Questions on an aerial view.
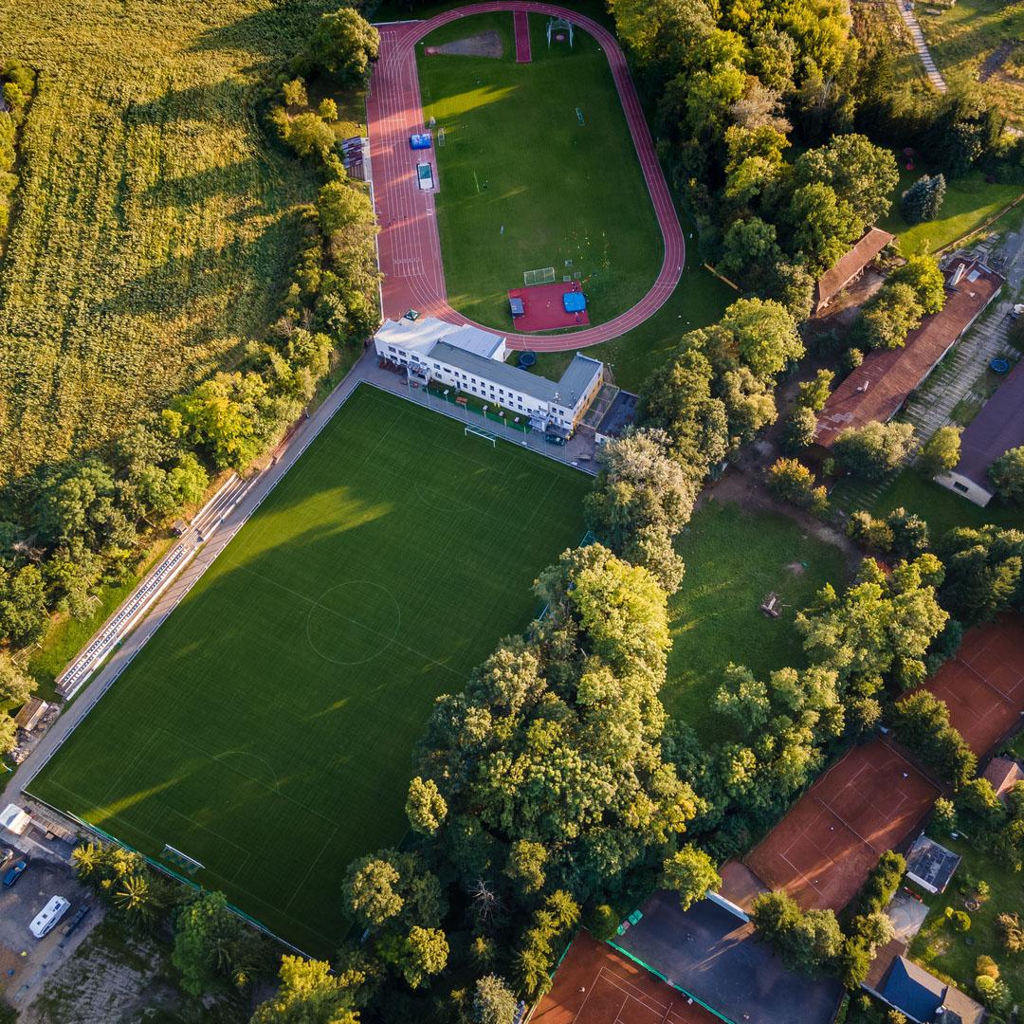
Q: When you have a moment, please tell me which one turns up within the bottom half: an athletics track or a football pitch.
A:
football pitch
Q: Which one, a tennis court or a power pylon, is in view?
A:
tennis court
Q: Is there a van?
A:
Yes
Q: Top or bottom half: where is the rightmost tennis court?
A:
bottom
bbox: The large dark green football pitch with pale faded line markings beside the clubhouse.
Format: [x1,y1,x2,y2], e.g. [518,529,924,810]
[27,383,606,964]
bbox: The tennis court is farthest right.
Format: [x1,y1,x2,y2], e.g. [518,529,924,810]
[894,609,1024,761]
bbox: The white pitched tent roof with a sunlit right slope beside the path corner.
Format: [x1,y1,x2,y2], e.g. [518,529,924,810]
[0,804,37,838]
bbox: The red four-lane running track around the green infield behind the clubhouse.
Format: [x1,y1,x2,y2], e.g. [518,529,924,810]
[364,4,690,350]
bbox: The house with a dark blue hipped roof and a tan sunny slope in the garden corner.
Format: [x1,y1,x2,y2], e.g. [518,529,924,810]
[879,957,992,1024]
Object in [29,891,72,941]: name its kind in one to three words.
van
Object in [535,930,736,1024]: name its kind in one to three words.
tennis court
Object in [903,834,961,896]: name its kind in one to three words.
shed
